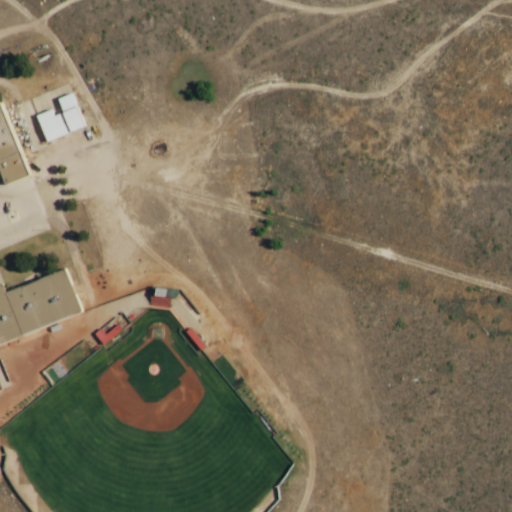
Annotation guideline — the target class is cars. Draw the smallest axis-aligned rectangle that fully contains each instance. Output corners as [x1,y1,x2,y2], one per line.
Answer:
[31,163,40,171]
[86,128,92,137]
[4,204,8,213]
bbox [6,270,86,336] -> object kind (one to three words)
building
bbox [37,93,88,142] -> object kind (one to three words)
shed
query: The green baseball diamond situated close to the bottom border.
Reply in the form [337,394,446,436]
[0,310,292,512]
